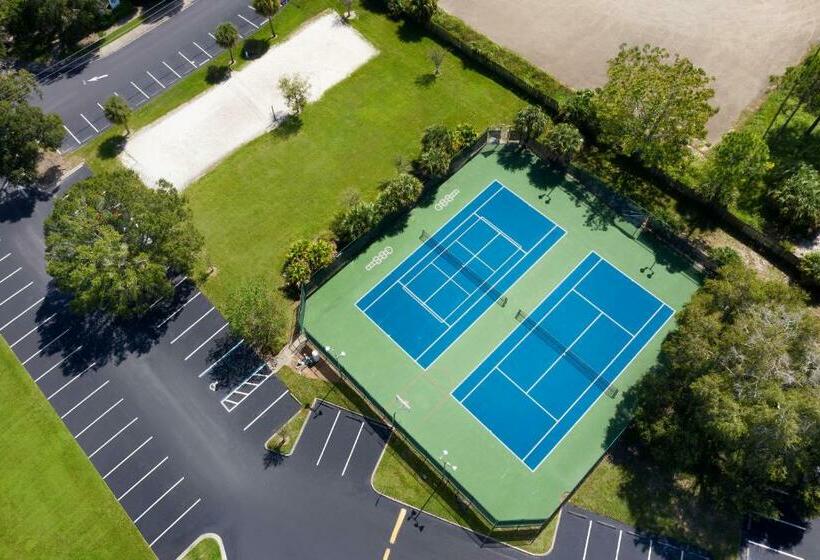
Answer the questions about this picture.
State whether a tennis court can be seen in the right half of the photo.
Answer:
Yes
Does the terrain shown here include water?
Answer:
No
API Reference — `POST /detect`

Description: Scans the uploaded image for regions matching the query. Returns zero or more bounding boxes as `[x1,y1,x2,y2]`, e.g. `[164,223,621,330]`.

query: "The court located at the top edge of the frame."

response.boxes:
[113,6,380,192]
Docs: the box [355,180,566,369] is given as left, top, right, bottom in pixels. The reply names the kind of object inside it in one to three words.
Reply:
tennis court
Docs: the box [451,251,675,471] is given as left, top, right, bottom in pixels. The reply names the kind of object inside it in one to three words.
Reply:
tennis court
